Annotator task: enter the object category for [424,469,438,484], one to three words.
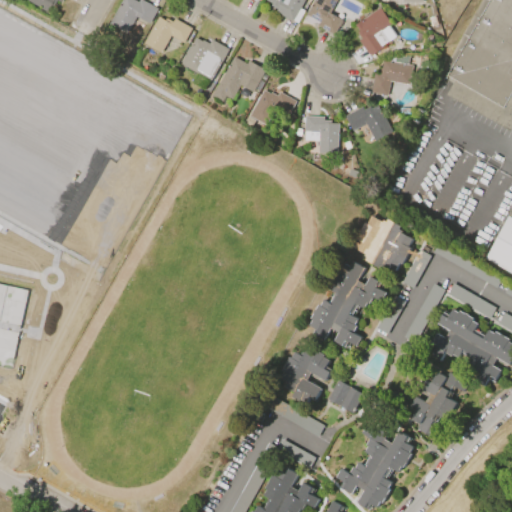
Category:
vehicle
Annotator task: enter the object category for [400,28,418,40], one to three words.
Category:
swimming pool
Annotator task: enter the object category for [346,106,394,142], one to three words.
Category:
house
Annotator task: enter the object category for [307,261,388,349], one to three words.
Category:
building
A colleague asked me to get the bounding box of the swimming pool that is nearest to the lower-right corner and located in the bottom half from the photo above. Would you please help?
[364,352,387,380]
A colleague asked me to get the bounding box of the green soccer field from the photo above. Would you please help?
[61,165,302,488]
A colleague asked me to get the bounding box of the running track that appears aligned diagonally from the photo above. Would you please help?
[42,152,314,500]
